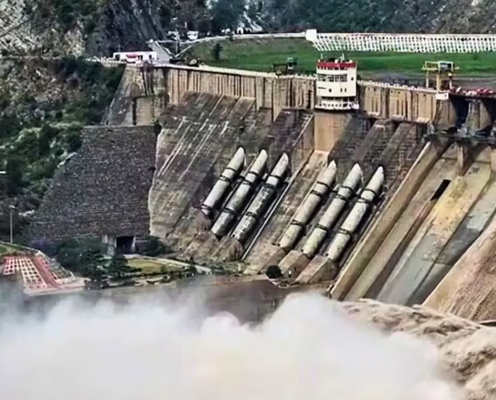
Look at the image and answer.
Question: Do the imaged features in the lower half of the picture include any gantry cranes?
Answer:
No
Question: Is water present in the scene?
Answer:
Yes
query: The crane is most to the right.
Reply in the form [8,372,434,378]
[431,59,466,92]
